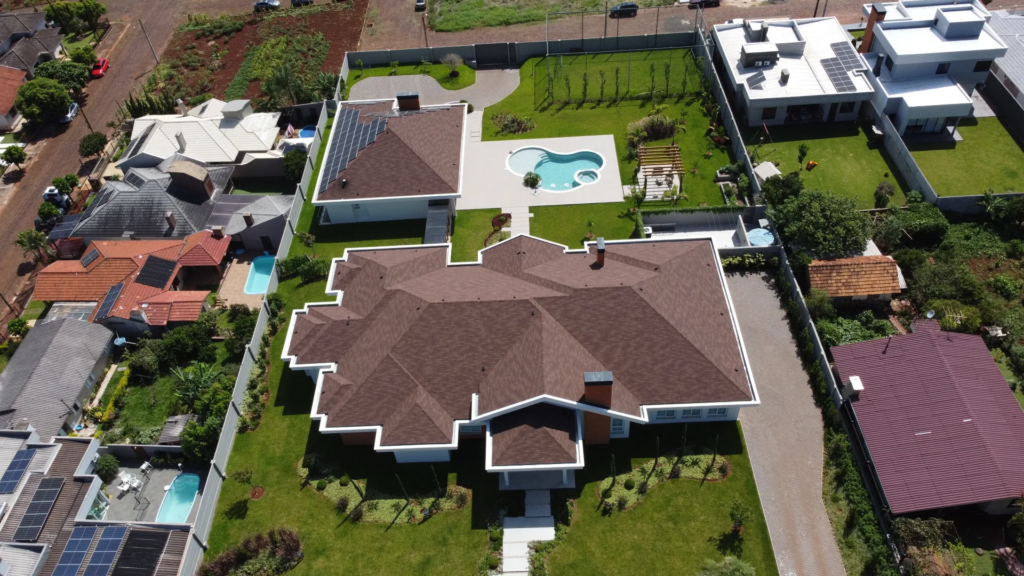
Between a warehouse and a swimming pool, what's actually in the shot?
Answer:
swimming pool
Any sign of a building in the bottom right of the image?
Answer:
Yes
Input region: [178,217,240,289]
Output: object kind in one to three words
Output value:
gazebo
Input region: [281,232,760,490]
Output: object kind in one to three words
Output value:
house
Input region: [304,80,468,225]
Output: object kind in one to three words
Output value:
shed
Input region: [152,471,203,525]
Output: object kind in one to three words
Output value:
swimming pool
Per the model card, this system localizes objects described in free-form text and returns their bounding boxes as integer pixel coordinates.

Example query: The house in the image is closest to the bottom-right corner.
[828,319,1024,520]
